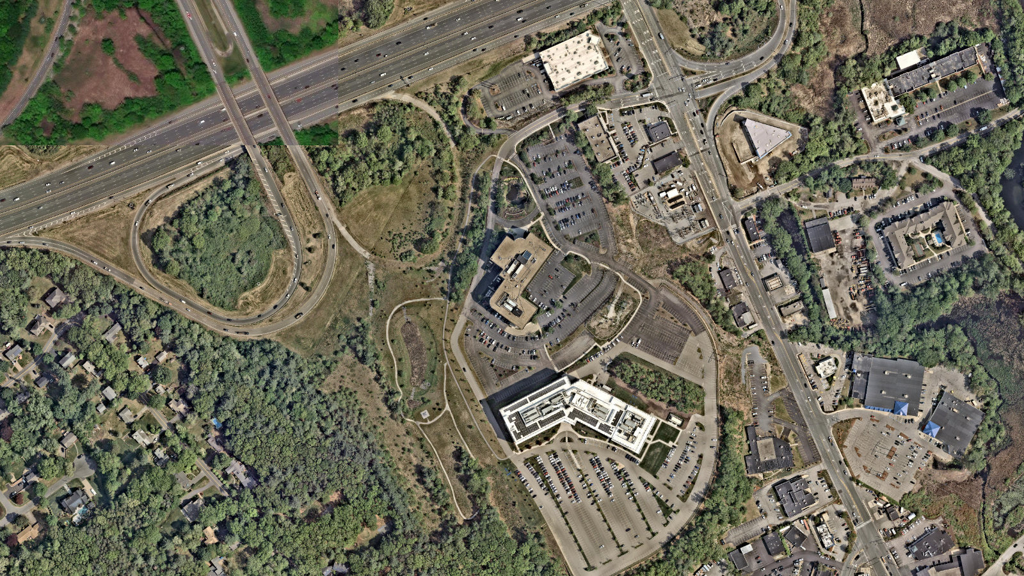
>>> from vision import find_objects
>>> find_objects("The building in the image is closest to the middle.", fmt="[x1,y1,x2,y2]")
[490,232,554,329]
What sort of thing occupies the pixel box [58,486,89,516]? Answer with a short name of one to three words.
house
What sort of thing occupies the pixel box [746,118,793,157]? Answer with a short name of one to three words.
building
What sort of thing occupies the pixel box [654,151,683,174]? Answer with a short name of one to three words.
building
